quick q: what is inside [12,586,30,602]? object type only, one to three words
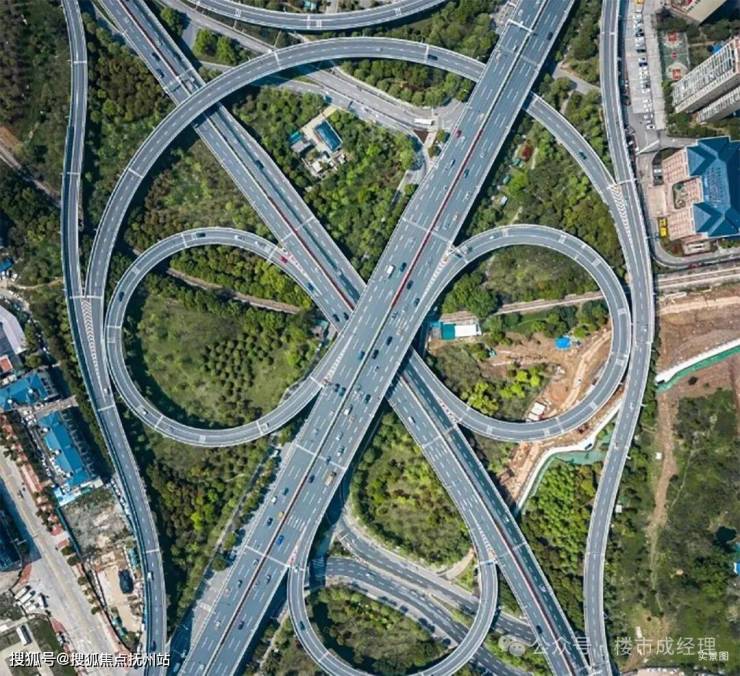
vehicle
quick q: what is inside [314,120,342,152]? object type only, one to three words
shed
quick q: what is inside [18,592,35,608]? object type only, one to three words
vehicle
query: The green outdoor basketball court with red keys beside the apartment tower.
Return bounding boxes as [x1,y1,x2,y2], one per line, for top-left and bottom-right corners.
[659,27,690,83]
